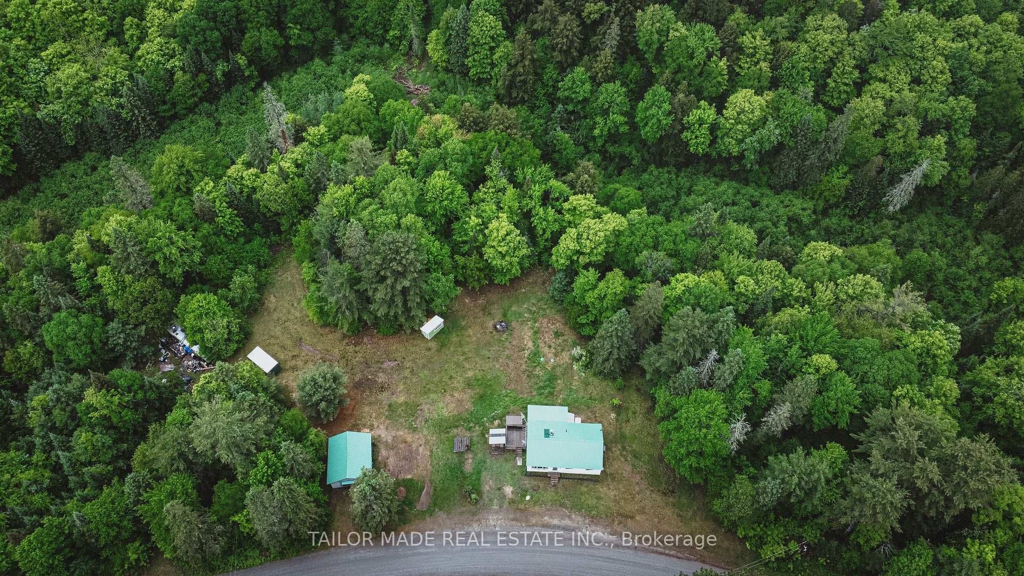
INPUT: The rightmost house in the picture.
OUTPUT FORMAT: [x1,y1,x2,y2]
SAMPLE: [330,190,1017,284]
[527,405,605,489]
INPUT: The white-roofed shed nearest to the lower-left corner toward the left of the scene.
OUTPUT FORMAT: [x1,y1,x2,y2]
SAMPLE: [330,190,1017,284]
[248,346,282,373]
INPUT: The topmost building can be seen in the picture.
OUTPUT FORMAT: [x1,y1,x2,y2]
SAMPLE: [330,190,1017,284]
[422,314,445,340]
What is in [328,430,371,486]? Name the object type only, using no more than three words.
building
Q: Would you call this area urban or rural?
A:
rural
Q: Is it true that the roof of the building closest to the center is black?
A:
No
